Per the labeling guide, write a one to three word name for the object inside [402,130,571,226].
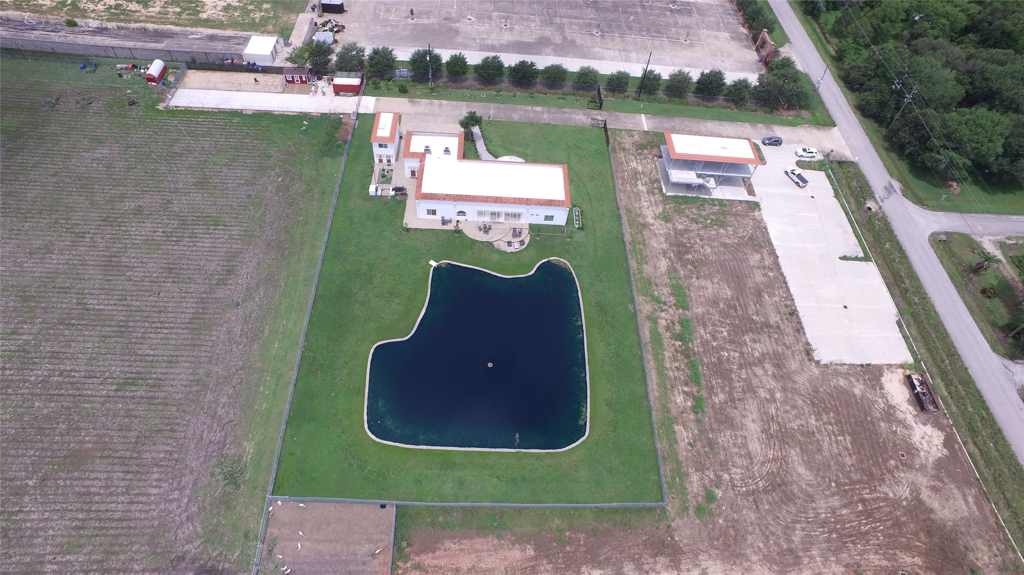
house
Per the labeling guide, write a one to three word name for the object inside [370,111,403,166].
house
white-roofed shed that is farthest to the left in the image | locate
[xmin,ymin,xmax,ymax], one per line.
[141,59,168,82]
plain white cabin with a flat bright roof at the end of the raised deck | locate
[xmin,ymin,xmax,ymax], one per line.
[243,36,279,64]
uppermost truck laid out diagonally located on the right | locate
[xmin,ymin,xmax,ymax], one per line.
[783,166,813,189]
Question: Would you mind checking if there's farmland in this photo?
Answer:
Yes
